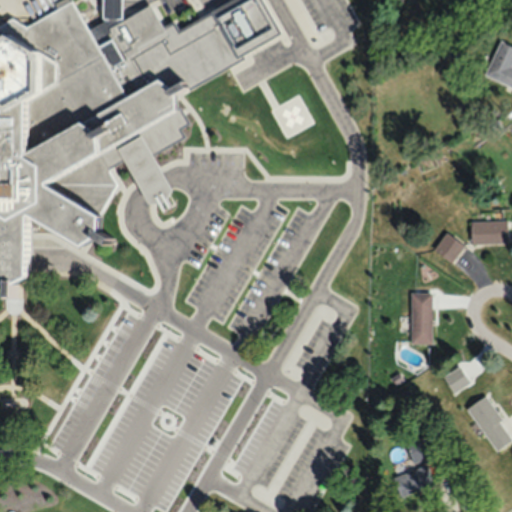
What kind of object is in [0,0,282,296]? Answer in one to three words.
building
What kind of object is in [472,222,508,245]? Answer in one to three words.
house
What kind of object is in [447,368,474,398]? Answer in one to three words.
house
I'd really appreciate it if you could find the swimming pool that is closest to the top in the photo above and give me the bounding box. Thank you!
[395,341,429,376]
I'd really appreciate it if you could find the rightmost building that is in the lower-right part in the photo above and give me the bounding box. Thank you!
[466,397,512,452]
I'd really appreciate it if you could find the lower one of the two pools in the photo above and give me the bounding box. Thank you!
[389,446,408,466]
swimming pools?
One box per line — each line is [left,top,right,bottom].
[395,341,429,376]
[389,446,408,466]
